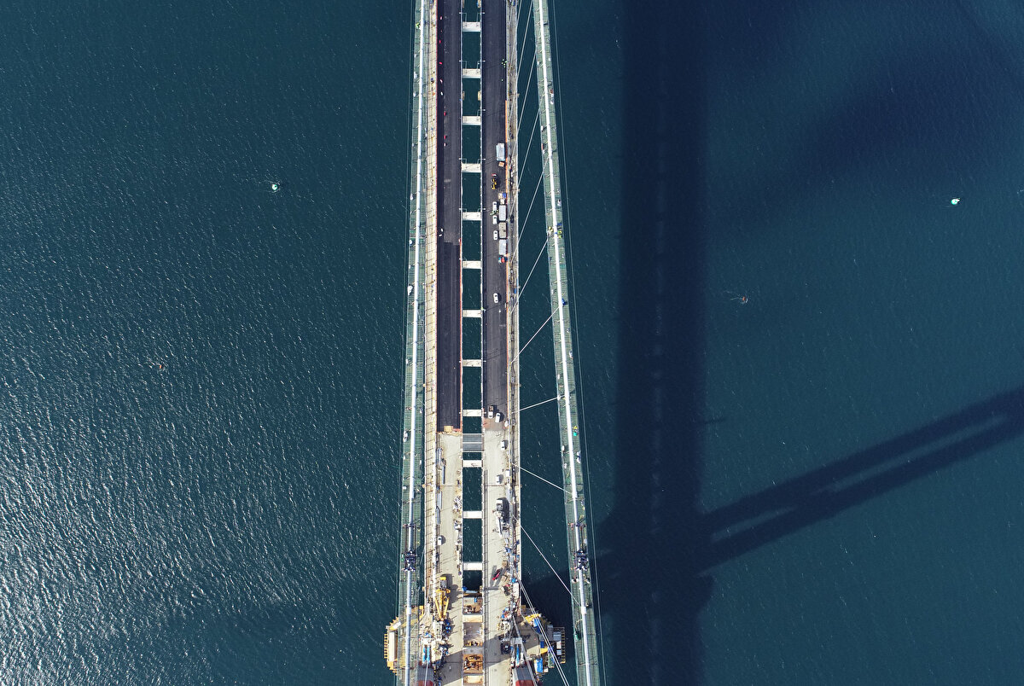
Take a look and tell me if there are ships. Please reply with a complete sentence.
No, there appears to be no ship in this shot.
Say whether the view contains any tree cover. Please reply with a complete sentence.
No, there is no tree cover in the image.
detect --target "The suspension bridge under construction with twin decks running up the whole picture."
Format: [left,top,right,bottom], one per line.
[404,0,590,686]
